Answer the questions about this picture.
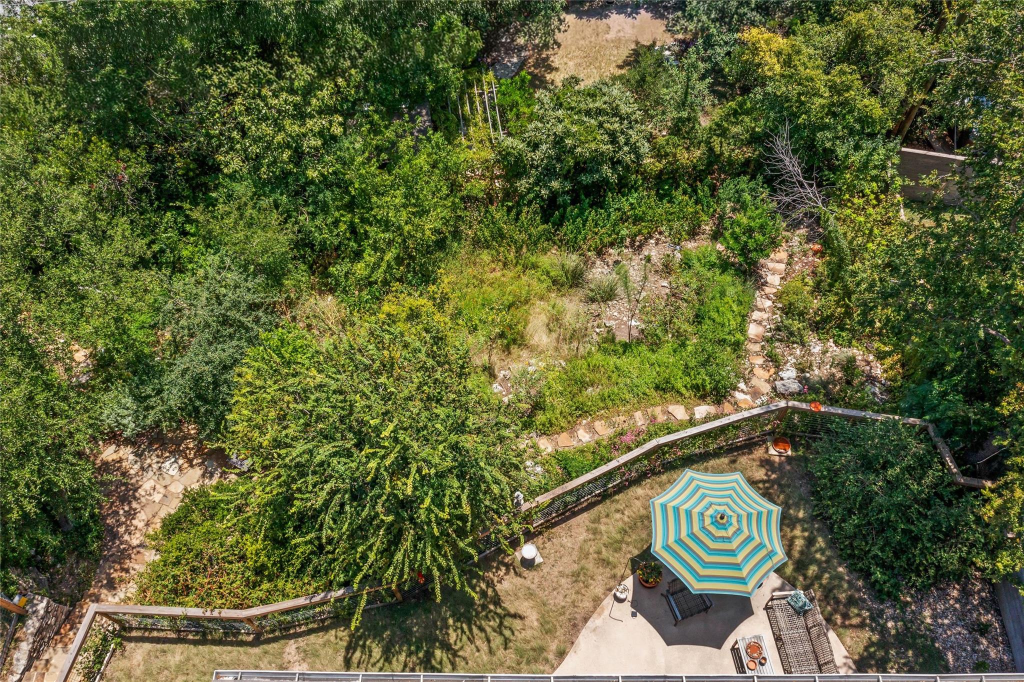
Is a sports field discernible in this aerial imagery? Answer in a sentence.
No, the scene contains no sports field.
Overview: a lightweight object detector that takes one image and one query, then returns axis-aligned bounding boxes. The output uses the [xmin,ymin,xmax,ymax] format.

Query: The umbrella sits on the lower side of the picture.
[648,468,788,601]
